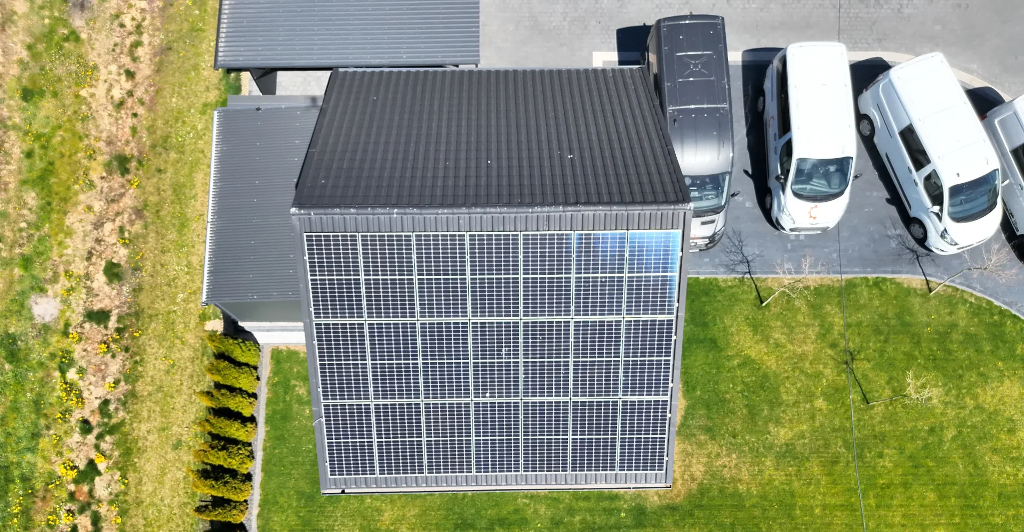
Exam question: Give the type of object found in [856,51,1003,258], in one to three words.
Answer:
van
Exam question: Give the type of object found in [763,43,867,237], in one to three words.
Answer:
van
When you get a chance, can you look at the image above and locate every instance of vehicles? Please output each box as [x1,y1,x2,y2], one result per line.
[639,10,748,256]
[856,51,1003,258]
[977,92,1024,244]
[763,43,867,237]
